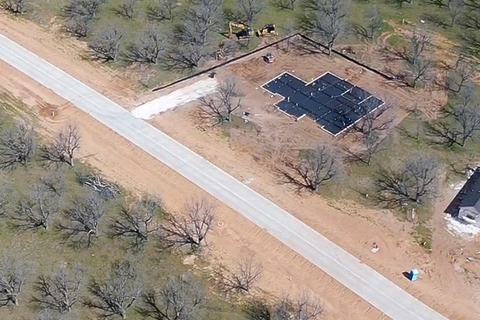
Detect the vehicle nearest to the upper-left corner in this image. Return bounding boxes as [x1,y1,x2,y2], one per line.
[223,21,255,39]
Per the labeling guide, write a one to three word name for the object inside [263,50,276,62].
vehicle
